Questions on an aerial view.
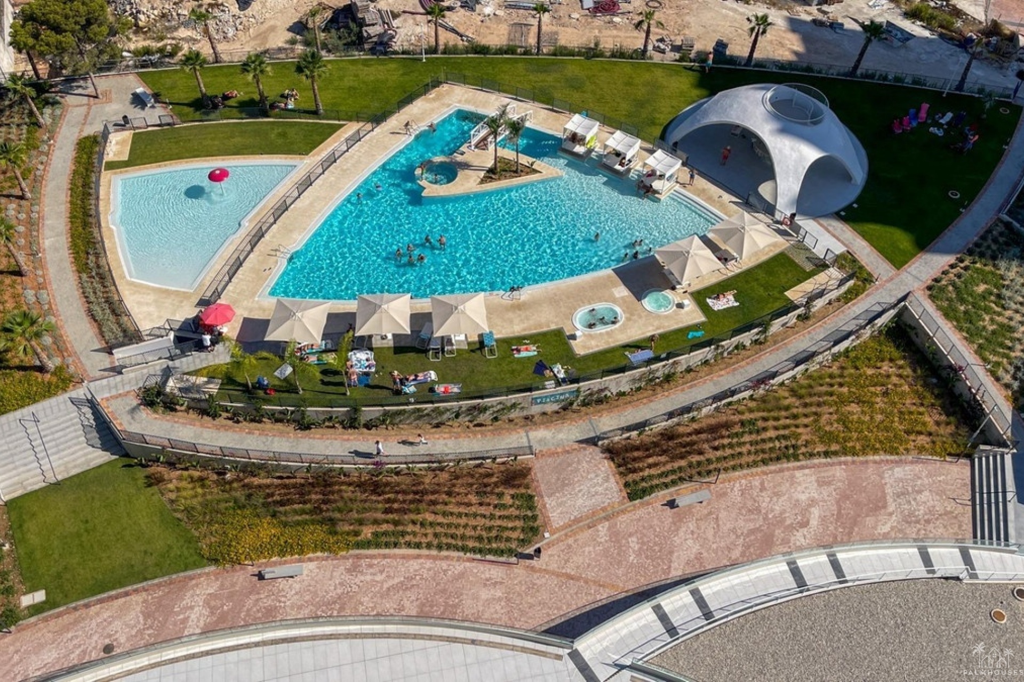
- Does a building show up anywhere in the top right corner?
Yes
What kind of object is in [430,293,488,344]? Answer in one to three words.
umbrella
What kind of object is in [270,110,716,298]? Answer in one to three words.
swimming pool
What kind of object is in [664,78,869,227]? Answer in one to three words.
building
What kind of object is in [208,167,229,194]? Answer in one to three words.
fountain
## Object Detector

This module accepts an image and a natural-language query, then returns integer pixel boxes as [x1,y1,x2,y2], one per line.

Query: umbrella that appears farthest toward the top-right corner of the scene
[708,211,778,265]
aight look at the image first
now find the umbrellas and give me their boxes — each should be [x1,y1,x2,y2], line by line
[708,211,778,265]
[267,299,330,351]
[430,293,488,344]
[356,293,412,344]
[654,235,724,288]
[198,300,238,341]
